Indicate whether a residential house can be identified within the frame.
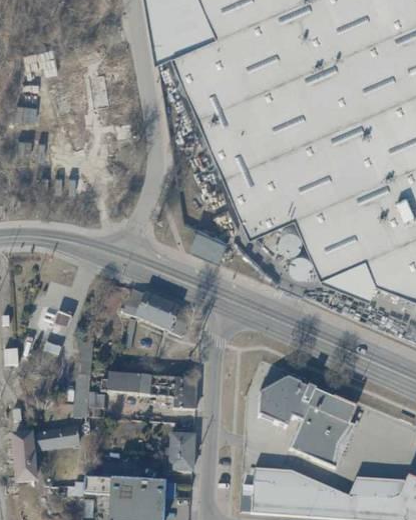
Yes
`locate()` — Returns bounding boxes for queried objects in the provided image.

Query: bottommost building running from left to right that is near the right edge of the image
[252,468,416,520]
